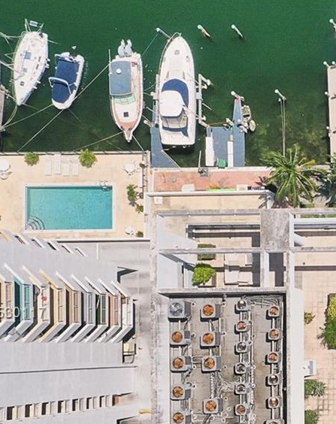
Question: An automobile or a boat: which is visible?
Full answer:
It is a boat that can be seen here.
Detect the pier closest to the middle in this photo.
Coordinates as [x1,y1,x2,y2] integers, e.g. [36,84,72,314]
[152,126,176,167]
